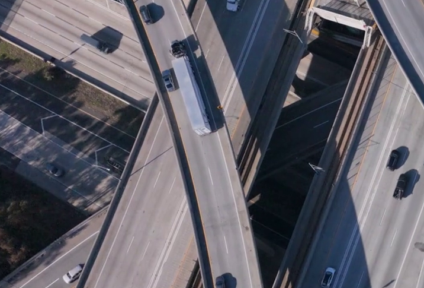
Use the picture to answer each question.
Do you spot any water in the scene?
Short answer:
No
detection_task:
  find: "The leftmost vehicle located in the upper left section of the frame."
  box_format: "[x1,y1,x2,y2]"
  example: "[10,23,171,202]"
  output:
[81,33,110,54]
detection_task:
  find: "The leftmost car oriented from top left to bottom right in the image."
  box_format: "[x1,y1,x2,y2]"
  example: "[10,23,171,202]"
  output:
[44,161,65,177]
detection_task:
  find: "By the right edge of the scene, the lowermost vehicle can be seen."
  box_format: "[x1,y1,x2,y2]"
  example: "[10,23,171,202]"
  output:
[392,172,408,199]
